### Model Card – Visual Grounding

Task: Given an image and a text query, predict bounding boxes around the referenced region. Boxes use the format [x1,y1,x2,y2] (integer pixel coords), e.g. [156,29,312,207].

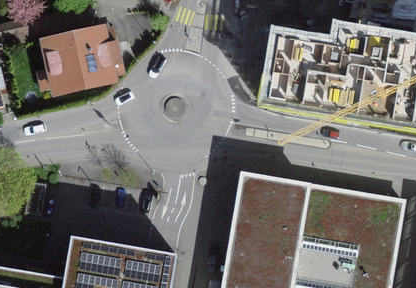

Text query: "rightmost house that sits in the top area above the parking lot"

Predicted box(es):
[37,24,126,96]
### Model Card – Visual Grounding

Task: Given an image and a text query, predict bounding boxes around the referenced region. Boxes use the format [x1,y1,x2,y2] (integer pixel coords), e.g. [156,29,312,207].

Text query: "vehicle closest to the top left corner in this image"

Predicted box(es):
[24,122,46,134]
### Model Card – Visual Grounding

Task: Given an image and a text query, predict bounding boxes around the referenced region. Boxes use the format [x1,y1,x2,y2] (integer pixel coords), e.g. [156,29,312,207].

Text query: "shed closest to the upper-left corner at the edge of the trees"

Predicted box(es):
[0,19,29,44]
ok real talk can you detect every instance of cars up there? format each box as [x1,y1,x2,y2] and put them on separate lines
[90,184,102,207]
[319,126,341,138]
[116,186,126,208]
[400,140,416,151]
[114,90,136,104]
[24,122,46,134]
[142,189,153,214]
[149,52,166,76]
